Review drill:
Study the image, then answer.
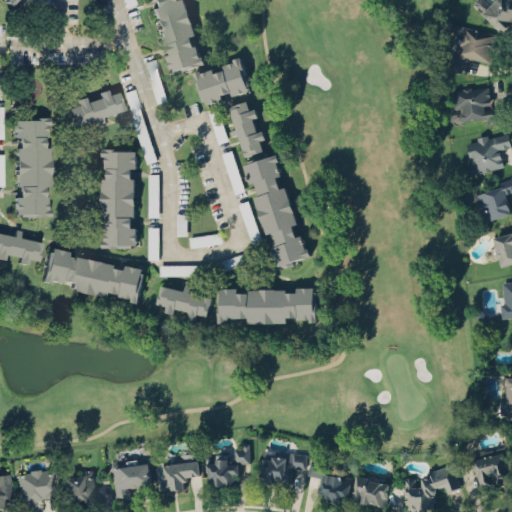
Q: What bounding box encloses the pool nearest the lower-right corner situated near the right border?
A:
[478,433,504,450]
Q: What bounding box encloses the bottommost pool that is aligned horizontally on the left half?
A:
[21,461,50,473]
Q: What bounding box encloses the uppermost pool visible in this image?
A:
[469,234,497,264]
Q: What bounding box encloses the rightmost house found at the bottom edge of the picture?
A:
[476,453,508,488]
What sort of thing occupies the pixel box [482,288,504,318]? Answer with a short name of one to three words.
swimming pool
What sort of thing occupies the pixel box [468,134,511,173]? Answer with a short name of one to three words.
house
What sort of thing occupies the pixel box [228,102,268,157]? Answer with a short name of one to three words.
building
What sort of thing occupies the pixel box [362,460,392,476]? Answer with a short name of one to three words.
swimming pool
